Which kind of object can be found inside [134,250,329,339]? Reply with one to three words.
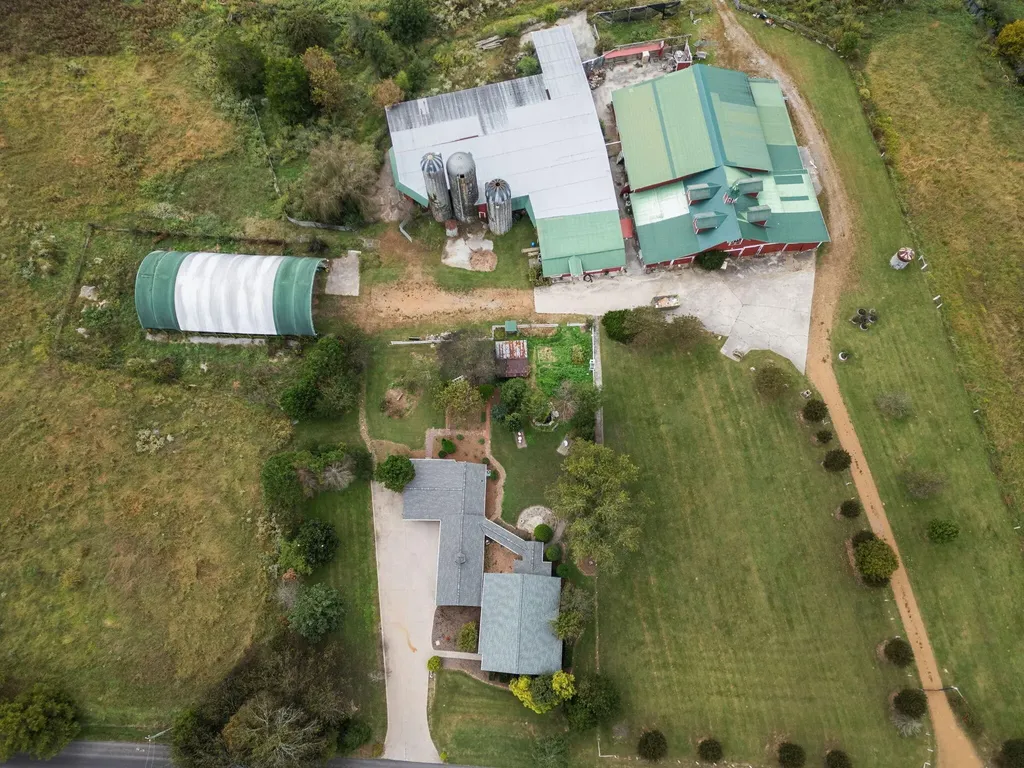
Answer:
barn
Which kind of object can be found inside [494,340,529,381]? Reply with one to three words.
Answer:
shed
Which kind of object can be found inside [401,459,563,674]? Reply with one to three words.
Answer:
house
